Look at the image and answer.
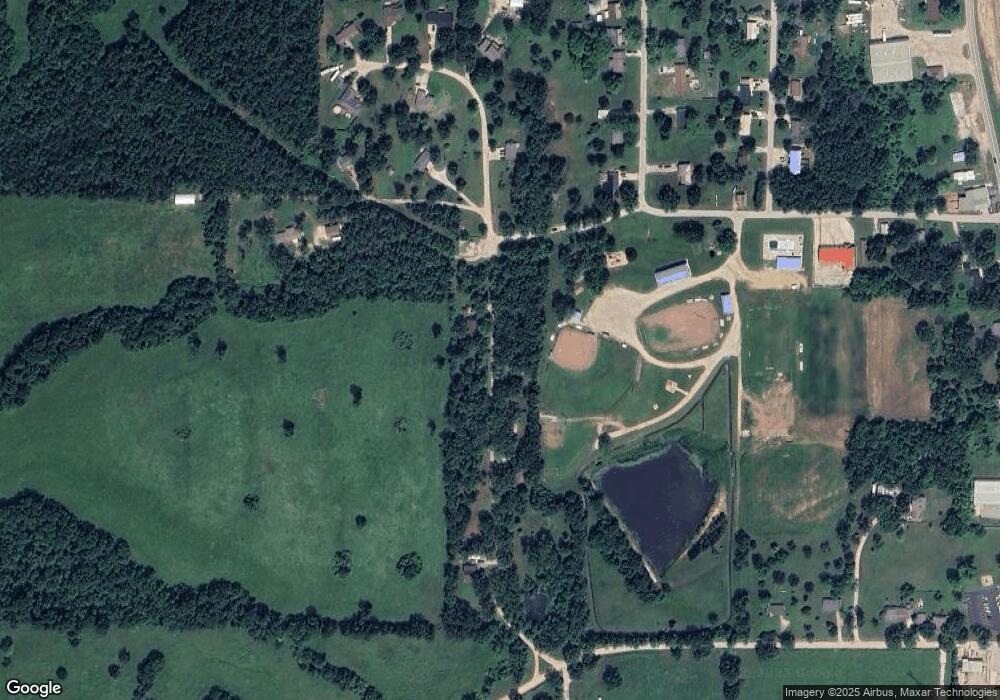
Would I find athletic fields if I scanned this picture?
Yes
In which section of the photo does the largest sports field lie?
right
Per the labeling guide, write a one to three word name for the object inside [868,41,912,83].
building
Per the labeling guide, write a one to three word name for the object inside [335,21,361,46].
house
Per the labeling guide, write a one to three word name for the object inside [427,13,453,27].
house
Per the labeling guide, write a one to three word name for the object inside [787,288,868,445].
sports field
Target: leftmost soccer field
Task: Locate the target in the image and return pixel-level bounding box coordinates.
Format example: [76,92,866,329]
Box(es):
[744,299,799,374]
